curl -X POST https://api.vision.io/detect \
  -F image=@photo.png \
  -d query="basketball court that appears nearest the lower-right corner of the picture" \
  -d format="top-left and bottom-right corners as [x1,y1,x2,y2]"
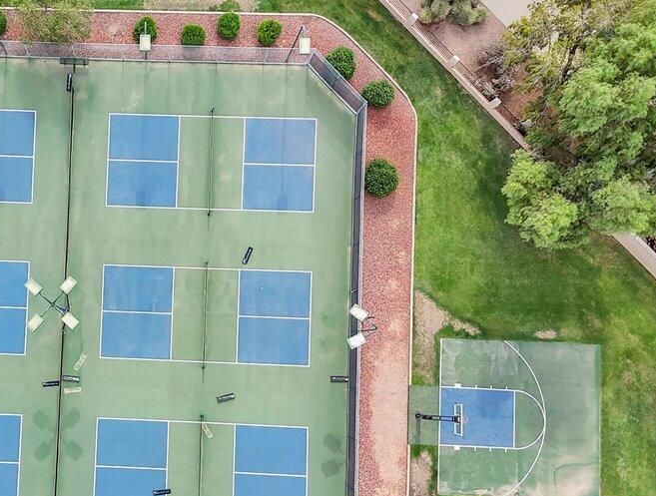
[411,339,601,496]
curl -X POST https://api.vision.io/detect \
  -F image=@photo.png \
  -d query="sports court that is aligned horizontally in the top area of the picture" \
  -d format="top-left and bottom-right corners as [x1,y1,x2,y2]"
[105,112,316,213]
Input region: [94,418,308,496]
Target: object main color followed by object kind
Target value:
blue sports court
